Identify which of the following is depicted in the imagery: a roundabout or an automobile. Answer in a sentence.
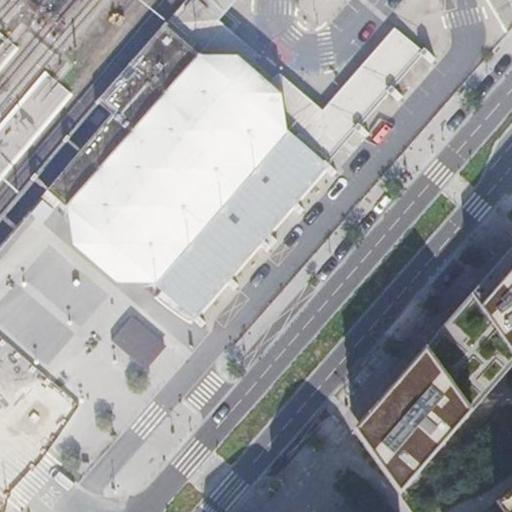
This aerial view contains an automobile.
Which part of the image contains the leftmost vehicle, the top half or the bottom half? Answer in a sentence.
You can find the leftmost vehicle in the bottom half.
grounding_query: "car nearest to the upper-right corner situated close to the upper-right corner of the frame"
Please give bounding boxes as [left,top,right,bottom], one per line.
[492,54,512,76]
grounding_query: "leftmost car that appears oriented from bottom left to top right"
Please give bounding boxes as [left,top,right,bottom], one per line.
[212,402,230,422]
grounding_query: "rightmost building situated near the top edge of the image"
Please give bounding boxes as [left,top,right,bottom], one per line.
[282,26,422,162]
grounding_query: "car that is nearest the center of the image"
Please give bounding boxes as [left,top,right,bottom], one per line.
[252,265,270,285]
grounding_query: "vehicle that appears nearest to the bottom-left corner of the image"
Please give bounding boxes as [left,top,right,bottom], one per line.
[55,472,75,492]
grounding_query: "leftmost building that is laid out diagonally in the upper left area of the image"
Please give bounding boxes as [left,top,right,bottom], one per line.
[48,23,196,203]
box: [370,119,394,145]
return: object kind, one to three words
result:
vehicle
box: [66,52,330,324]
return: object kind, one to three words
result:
building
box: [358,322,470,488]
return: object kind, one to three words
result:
building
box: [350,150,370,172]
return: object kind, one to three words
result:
car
